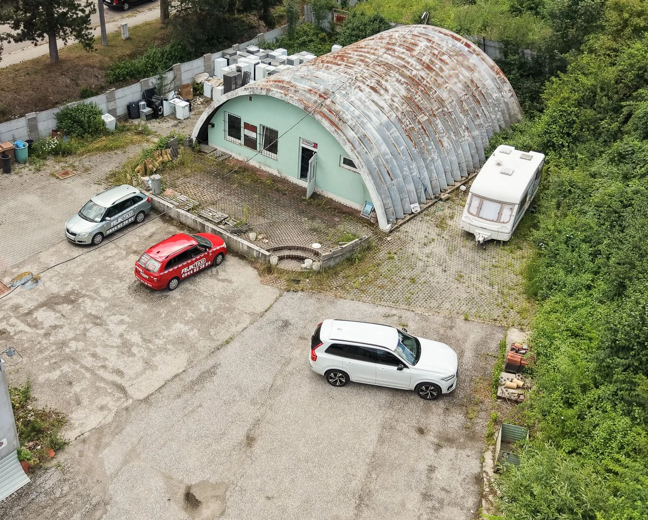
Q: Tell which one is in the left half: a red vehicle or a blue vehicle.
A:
red vehicle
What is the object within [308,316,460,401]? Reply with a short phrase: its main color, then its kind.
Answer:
white car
